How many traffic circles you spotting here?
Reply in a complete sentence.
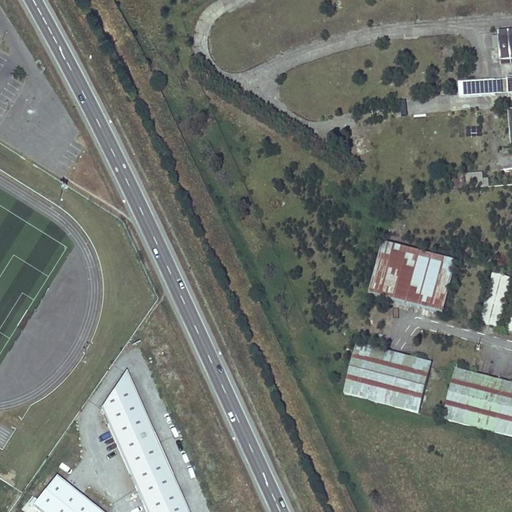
Not a single traffic circle can be seen.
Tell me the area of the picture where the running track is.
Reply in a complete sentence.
Look in the left portion of the view to spot the running track.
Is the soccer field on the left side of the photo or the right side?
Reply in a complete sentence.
You can find the soccer field on the left side of the picture.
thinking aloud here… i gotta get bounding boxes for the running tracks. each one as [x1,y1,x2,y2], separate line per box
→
[0,170,102,409]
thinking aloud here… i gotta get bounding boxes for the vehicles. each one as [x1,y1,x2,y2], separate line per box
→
[78,93,85,104]
[104,438,114,446]
[58,460,72,472]
[106,451,116,459]
[178,278,185,289]
[164,413,172,424]
[216,364,224,374]
[98,432,112,441]
[176,440,184,451]
[186,466,196,478]
[180,451,190,464]
[152,248,159,258]
[227,411,236,424]
[106,444,116,451]
[278,498,286,508]
[170,424,179,438]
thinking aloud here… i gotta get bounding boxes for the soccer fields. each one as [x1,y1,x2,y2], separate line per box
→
[0,188,74,362]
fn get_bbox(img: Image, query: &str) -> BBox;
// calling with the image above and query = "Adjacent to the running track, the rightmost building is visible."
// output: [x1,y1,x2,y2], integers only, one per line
[101,368,190,512]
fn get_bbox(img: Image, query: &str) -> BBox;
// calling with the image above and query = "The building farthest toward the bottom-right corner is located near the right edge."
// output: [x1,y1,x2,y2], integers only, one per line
[447,367,512,439]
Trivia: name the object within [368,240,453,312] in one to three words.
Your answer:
barn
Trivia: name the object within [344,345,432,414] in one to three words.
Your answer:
barn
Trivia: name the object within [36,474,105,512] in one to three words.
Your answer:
building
